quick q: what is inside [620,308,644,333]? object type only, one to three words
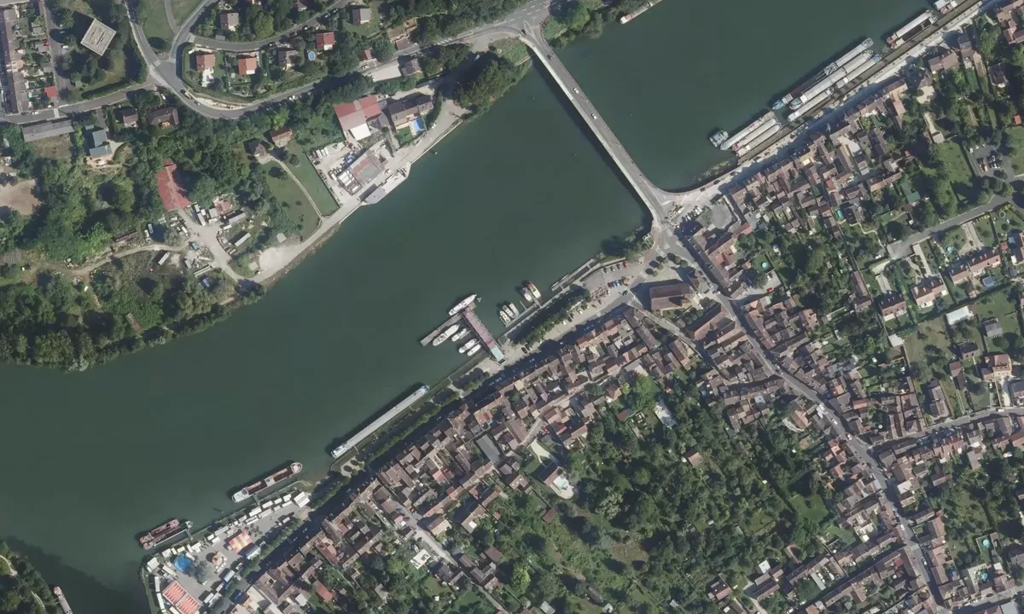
house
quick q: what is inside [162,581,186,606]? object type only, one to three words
building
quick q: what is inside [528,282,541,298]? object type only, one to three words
boat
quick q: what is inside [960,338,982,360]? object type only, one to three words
house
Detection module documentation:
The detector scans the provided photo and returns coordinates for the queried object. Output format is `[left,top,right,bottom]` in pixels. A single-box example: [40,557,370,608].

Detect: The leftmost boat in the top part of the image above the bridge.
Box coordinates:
[621,0,663,23]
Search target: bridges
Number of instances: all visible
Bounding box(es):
[524,29,663,219]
